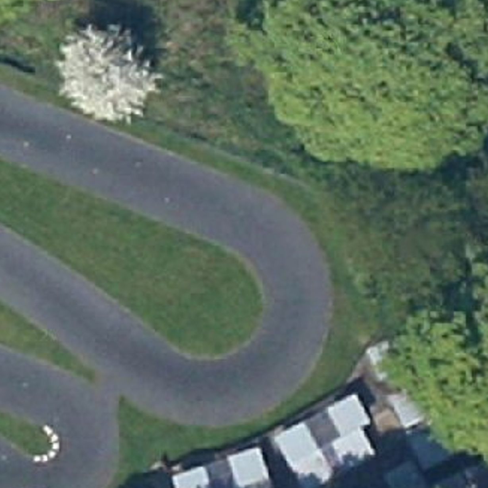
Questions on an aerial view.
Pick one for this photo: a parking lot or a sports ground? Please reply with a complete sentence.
The area seen from above is a sports ground.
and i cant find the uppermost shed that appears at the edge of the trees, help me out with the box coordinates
[367,341,392,369]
